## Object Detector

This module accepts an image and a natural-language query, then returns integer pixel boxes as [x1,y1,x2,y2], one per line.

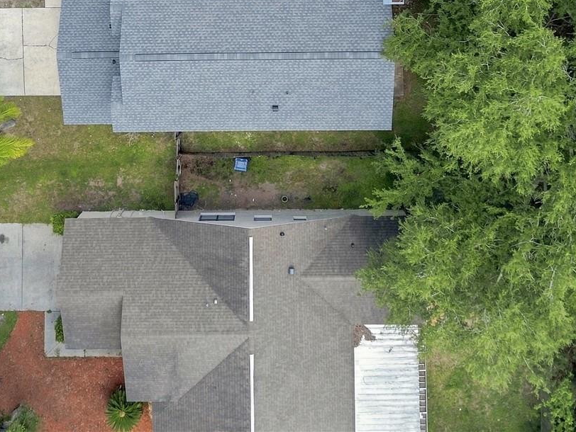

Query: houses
[58,0,405,131]
[58,207,418,432]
